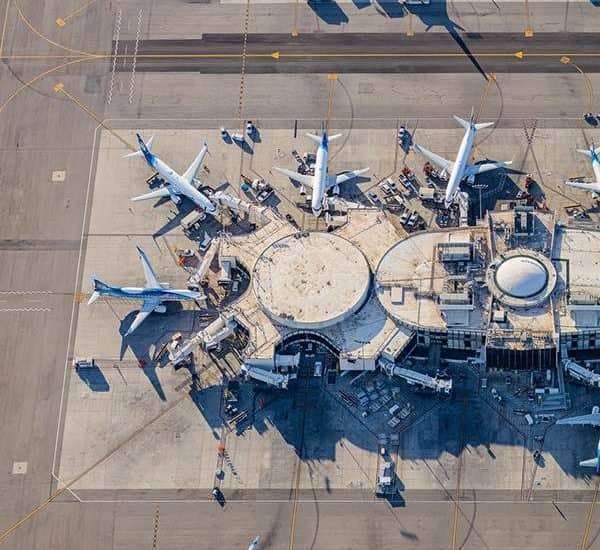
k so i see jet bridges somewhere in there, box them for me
[375,358,458,397]
[164,300,234,367]
[324,196,368,218]
[186,234,225,287]
[451,185,470,228]
[271,356,295,378]
[211,193,267,223]
[240,360,297,394]
[558,356,600,393]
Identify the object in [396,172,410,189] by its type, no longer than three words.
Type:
vehicle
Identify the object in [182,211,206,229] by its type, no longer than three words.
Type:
vehicle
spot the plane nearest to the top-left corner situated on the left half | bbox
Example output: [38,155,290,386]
[129,141,216,213]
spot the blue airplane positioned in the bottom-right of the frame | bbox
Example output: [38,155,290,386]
[553,392,600,469]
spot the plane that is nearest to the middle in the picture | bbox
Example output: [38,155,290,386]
[273,126,370,217]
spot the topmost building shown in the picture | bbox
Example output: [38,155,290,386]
[217,205,600,374]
